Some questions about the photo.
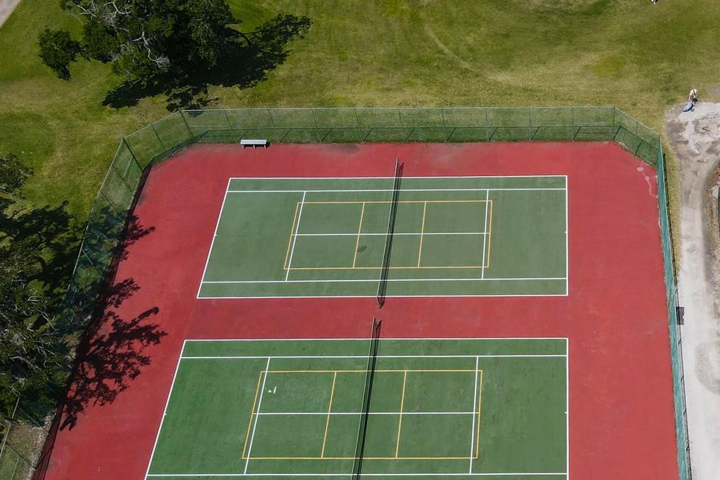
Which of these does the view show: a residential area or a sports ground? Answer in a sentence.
This image shows a sports ground.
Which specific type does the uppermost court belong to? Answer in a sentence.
I'd say the uppermost court is a tennis court.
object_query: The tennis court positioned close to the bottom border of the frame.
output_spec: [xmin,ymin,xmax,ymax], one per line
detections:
[145,337,569,480]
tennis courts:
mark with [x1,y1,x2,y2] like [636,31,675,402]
[145,337,569,480]
[197,175,569,298]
